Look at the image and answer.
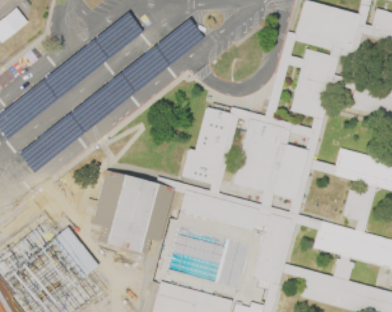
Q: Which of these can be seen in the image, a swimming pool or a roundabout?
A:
swimming pool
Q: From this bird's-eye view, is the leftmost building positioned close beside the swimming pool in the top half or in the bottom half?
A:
bottom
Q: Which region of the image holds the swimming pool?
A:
bottom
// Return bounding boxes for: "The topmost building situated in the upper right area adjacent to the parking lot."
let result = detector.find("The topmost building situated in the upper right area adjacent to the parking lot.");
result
[296,0,360,54]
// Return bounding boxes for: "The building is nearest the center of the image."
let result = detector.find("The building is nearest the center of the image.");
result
[184,106,241,188]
